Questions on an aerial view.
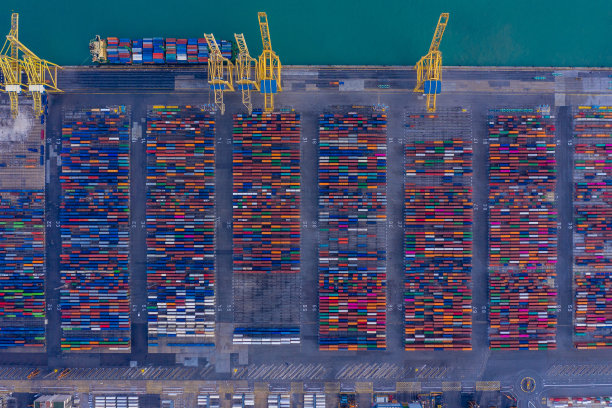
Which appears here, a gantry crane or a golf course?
gantry crane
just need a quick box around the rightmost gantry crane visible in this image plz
[411,15,448,111]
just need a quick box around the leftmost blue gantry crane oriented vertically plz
[257,15,285,111]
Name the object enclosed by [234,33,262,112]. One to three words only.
container crane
